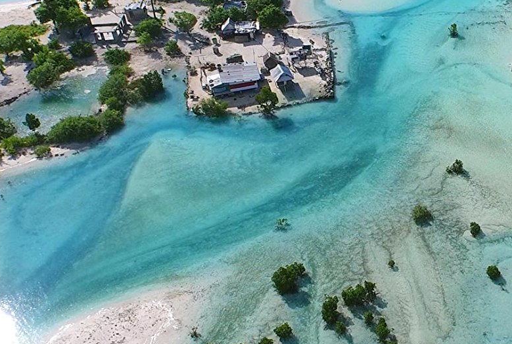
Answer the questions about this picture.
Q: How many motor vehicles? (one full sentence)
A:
Not a single motor vehicle can be seen.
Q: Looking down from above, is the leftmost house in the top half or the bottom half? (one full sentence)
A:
The top half of the photo is where the leftmost house is.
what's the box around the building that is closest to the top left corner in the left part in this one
[90,7,130,42]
